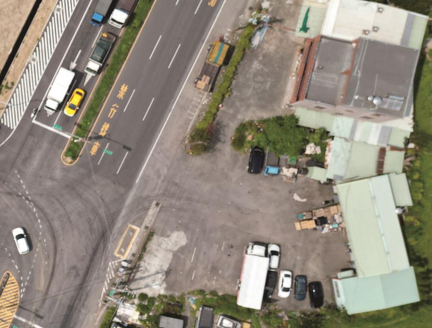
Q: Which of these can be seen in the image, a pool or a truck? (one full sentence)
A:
The one in the frame is a truck.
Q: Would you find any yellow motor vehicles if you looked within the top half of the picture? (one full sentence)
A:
Yes, a yellow motor vehicle shows up within the top half of the picture.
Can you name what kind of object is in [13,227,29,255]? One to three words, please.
car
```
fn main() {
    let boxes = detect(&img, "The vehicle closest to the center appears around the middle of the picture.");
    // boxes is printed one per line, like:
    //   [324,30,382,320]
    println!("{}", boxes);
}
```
[248,146,264,174]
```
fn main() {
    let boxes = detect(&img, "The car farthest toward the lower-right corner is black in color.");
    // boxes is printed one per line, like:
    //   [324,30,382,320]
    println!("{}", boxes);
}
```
[310,281,325,308]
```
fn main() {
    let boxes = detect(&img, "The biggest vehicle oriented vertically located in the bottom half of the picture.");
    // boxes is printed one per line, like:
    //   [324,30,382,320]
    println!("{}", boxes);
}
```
[238,241,267,309]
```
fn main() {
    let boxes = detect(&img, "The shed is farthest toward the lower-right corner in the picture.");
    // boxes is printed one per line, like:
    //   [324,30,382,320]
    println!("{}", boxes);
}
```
[326,267,420,315]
